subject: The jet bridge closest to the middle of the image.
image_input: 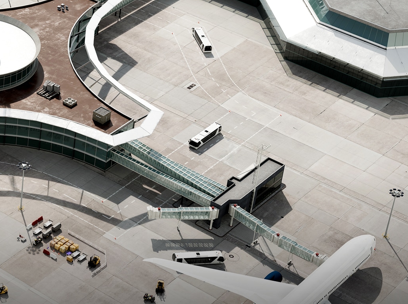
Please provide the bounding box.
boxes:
[139,204,218,233]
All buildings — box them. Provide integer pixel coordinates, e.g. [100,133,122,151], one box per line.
[197,161,292,242]
[239,0,408,98]
[0,0,166,173]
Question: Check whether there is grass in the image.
No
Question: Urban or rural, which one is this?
urban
